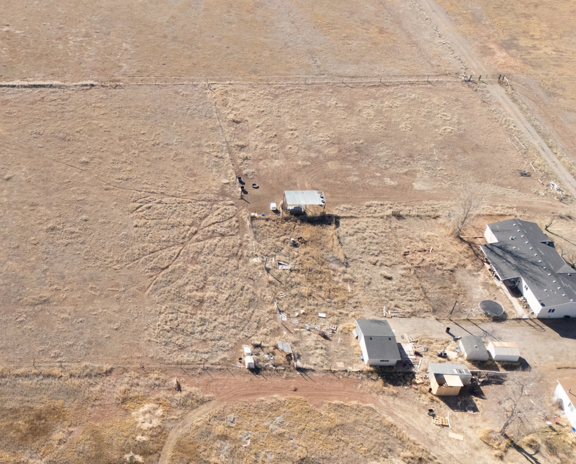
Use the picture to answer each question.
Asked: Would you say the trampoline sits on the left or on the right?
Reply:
right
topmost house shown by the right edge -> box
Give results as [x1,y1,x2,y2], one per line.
[478,217,576,317]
